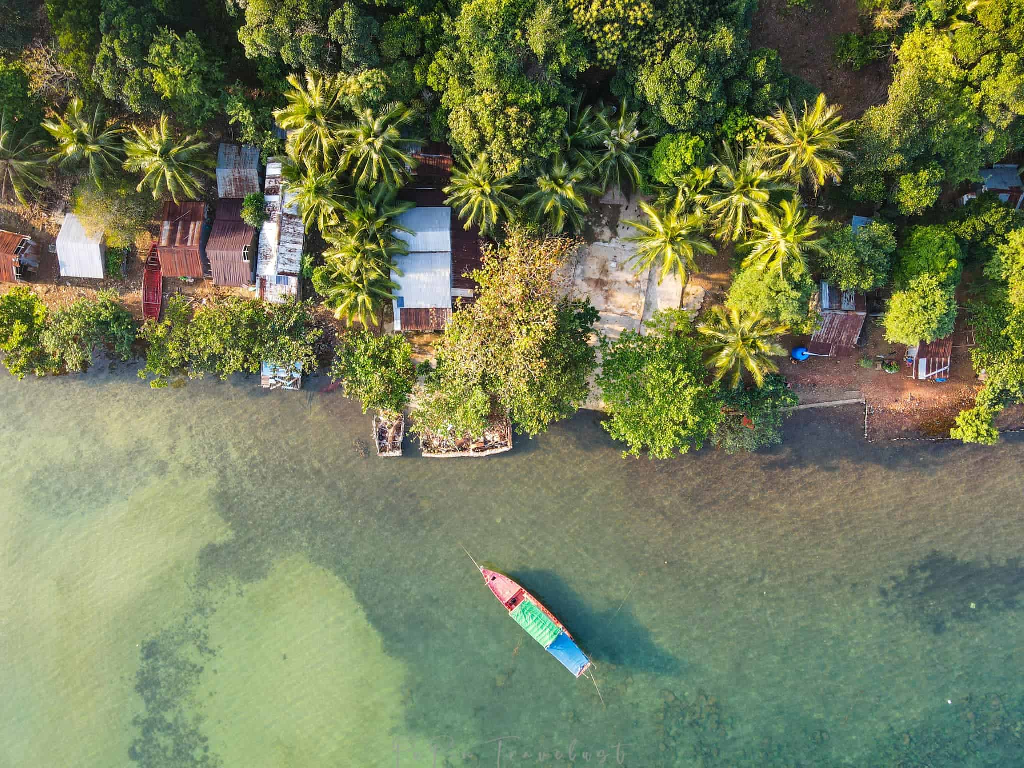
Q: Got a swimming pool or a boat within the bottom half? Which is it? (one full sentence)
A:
The one visible within the bottom half is a boat.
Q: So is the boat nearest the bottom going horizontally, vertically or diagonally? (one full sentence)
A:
The boat nearest the bottom has been laid out diagonally relative to the frame.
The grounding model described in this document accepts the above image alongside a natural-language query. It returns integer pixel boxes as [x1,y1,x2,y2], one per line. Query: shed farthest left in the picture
[0,231,46,283]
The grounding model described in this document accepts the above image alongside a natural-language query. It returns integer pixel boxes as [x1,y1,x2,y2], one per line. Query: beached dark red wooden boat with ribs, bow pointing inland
[139,241,163,325]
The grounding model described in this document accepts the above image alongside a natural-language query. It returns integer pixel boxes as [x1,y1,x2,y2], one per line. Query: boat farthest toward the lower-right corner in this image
[480,564,596,682]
